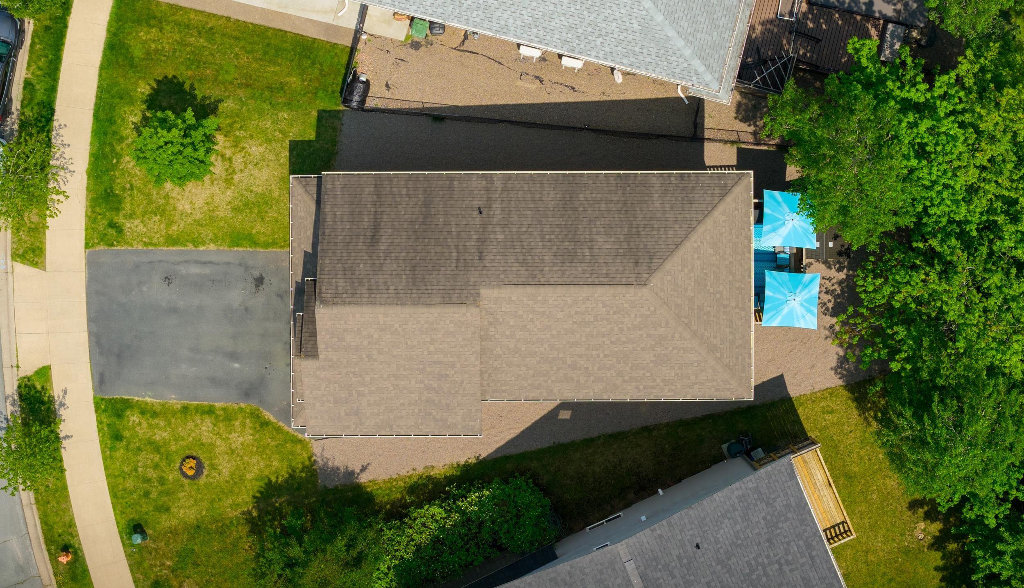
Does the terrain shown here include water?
No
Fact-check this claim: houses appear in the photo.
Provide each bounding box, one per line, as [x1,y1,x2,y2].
[455,452,853,588]
[335,0,756,105]
[290,171,754,437]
